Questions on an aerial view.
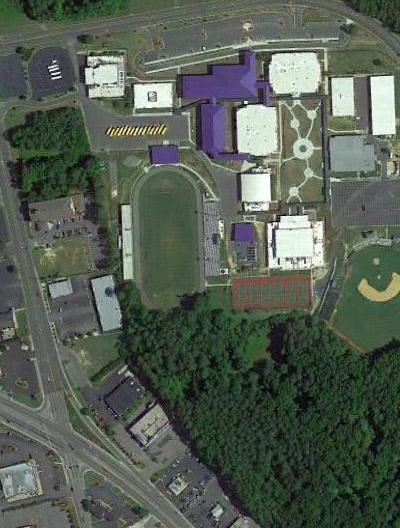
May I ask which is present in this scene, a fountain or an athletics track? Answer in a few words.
athletics track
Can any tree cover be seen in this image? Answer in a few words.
Yes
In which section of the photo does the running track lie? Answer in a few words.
center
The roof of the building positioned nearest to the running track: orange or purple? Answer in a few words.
purple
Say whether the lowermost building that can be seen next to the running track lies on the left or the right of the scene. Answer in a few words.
left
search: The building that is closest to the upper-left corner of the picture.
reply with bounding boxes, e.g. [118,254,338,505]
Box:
[86,56,125,97]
